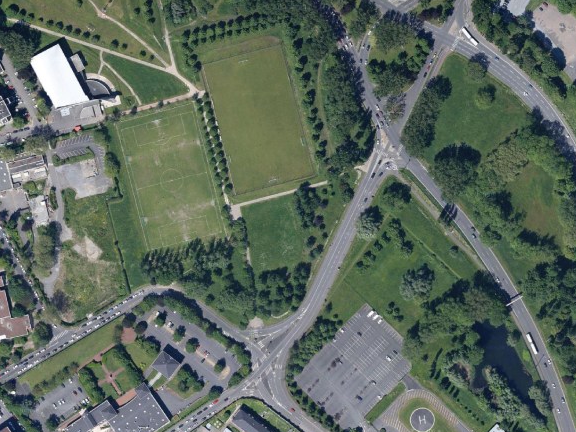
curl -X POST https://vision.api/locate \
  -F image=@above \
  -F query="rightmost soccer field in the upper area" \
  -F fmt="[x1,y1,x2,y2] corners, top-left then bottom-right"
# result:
[201,33,318,199]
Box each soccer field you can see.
[201,33,318,199]
[115,103,227,252]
